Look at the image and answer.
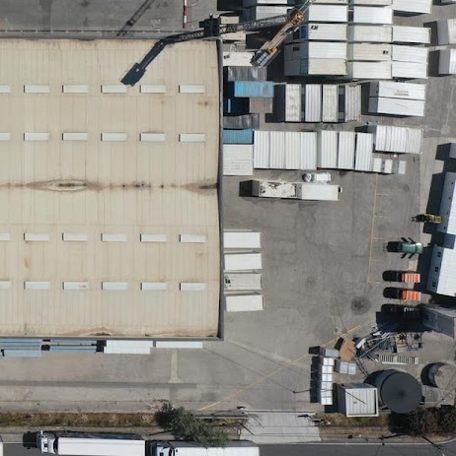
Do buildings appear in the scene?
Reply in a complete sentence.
Yes, the frame does contain a building.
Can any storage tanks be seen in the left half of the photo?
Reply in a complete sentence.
No, there is no storage tank in the left half of the photo.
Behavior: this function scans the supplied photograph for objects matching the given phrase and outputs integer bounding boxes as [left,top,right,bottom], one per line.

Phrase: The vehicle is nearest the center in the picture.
[297,170,331,184]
